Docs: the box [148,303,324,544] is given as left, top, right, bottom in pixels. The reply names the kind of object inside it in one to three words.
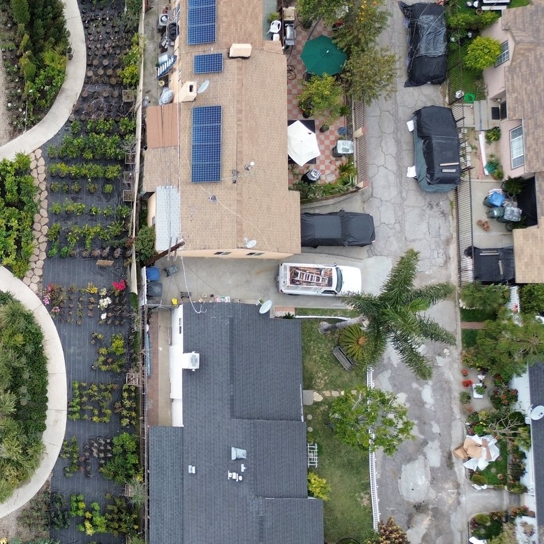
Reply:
house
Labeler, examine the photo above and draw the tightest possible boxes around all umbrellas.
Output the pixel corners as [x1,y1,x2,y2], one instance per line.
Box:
[299,35,345,79]
[289,126,320,162]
